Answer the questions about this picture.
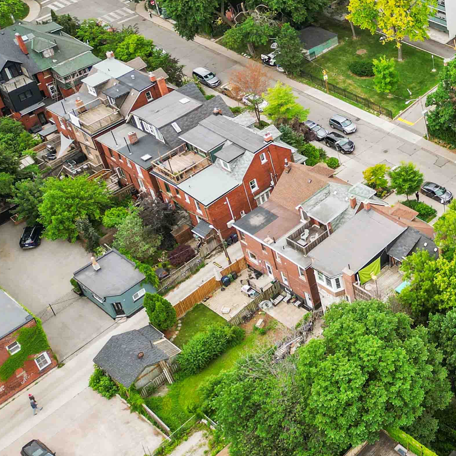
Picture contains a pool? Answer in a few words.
No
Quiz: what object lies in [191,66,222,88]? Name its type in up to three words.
car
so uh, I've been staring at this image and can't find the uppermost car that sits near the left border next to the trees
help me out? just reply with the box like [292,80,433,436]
[14,219,50,254]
